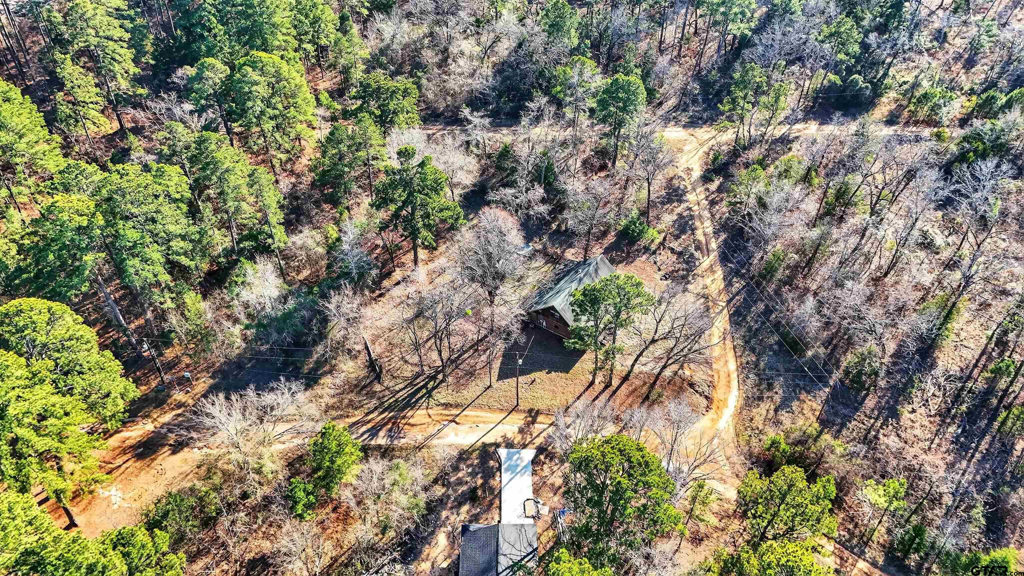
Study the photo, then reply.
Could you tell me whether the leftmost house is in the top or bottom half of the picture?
bottom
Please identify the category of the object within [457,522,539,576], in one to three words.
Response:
house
